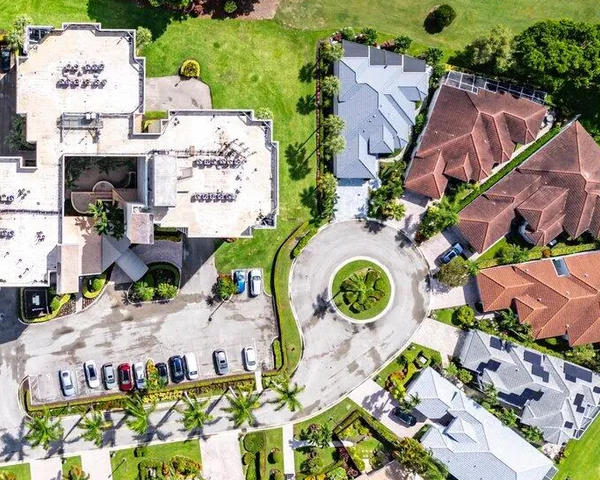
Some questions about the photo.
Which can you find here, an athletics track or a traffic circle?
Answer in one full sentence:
It is a traffic circle that can be seen here.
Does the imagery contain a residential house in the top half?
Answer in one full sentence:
Yes, a residential house is visible in the top half.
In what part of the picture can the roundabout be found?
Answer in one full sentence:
The roundabout is in the center part of the image.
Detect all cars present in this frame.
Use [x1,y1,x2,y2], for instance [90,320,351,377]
[103,361,115,389]
[61,368,73,395]
[388,404,416,425]
[133,360,147,387]
[118,362,132,390]
[0,45,11,72]
[155,357,169,384]
[248,268,260,296]
[170,353,185,381]
[438,241,465,262]
[234,269,245,294]
[83,359,98,387]
[243,344,257,371]
[214,347,229,375]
